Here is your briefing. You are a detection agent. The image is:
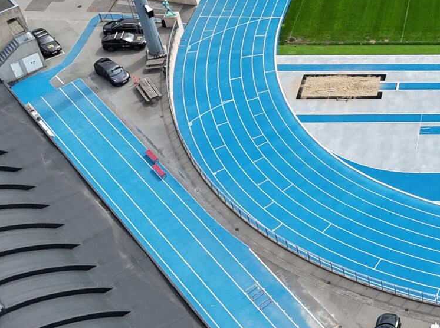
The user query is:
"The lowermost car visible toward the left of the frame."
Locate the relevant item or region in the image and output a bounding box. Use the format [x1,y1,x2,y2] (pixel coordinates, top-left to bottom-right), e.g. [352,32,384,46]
[91,60,129,86]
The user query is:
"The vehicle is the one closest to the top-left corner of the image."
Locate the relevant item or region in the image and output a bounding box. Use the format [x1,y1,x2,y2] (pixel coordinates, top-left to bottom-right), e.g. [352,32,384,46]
[35,29,60,57]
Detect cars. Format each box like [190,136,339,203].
[100,19,143,38]
[35,29,60,57]
[373,308,400,328]
[100,35,145,53]
[91,60,129,86]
